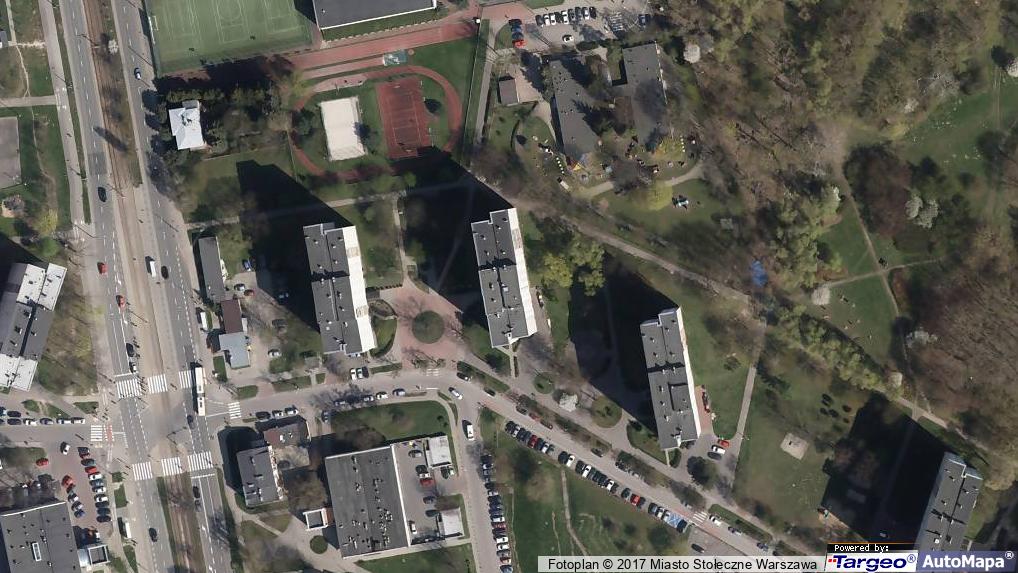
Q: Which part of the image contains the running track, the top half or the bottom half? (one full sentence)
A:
The top half of the photo is where the running track is.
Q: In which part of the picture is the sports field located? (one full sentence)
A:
The sports field is in the top left part of the image.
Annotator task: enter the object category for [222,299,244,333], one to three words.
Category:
building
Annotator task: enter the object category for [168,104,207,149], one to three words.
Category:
house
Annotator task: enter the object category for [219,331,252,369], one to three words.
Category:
building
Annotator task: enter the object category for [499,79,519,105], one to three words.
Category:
shed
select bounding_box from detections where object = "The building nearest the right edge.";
[908,453,982,573]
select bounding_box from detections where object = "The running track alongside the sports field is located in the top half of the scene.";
[262,20,480,177]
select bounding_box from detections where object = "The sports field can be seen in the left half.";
[147,0,314,84]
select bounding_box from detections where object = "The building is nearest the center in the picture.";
[471,208,536,348]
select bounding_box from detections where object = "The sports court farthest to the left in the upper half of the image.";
[320,96,368,160]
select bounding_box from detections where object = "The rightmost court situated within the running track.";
[377,78,432,161]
